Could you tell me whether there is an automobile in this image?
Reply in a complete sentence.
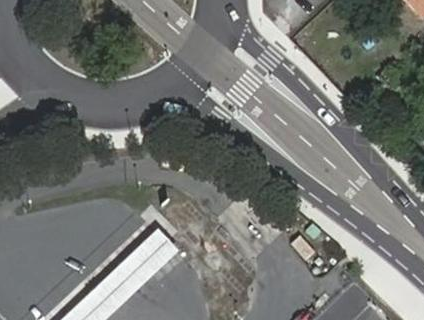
Yes, there is an automobile in the image.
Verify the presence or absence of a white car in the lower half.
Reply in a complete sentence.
Yes, a white car is visible in the lower half.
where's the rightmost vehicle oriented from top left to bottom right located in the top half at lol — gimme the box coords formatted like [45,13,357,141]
[316,108,338,128]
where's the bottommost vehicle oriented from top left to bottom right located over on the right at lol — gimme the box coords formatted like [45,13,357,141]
[246,222,263,240]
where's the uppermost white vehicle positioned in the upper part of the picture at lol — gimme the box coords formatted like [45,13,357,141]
[225,2,240,24]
